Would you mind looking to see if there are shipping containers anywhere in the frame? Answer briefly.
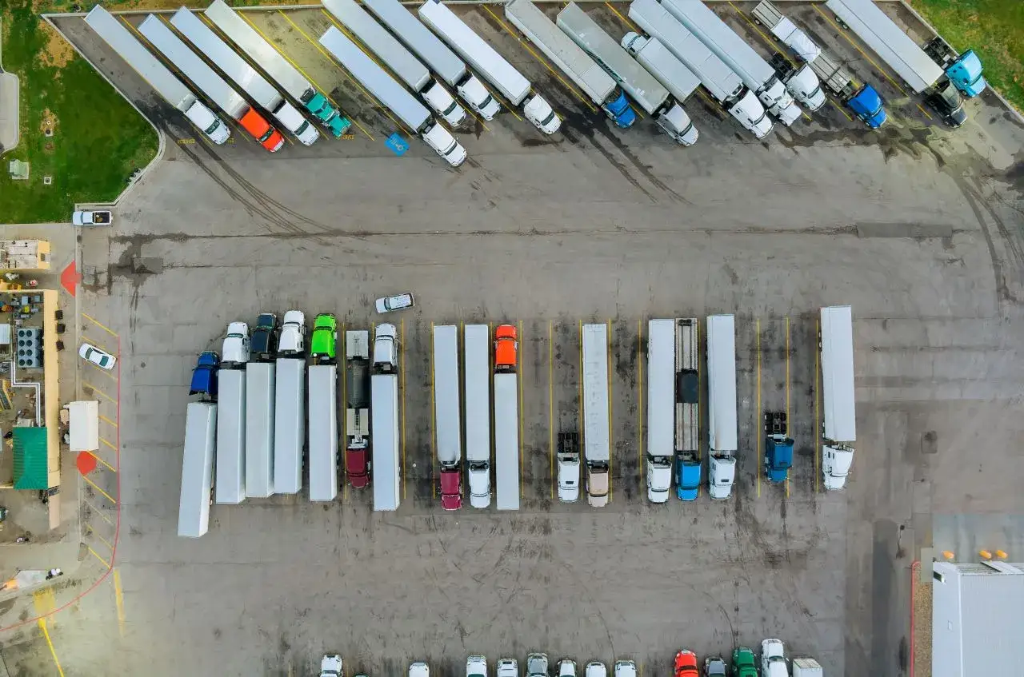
Yes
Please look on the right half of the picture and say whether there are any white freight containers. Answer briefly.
No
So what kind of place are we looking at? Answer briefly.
parking lot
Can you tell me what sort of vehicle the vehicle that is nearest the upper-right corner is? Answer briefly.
truck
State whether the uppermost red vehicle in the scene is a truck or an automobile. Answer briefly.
truck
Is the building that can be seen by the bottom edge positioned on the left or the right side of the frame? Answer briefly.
right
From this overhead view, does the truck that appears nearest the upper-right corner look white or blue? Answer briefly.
blue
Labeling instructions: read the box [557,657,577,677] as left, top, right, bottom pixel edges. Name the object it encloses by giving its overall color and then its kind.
white vehicle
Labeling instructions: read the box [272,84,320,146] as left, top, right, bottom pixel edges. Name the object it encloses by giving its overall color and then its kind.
white truck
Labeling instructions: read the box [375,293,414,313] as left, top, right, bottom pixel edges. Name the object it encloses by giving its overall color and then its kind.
white car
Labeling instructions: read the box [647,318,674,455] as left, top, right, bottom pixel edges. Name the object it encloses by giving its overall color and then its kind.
white trailer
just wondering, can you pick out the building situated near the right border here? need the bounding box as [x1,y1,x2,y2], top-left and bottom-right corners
[931,564,1024,677]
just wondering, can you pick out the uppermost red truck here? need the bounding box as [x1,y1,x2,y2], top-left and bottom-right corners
[236,89,284,152]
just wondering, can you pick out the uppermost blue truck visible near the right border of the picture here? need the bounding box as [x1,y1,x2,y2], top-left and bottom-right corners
[925,45,989,100]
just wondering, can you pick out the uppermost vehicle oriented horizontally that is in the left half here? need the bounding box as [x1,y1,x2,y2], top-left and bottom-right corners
[70,207,112,225]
